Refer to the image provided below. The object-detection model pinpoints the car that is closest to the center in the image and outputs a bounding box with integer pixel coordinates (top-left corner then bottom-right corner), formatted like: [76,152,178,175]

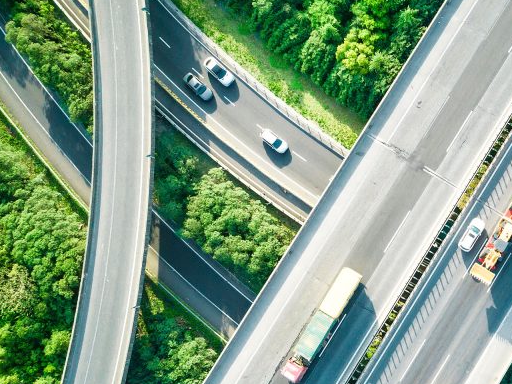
[259,127,290,155]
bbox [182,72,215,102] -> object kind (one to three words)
car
